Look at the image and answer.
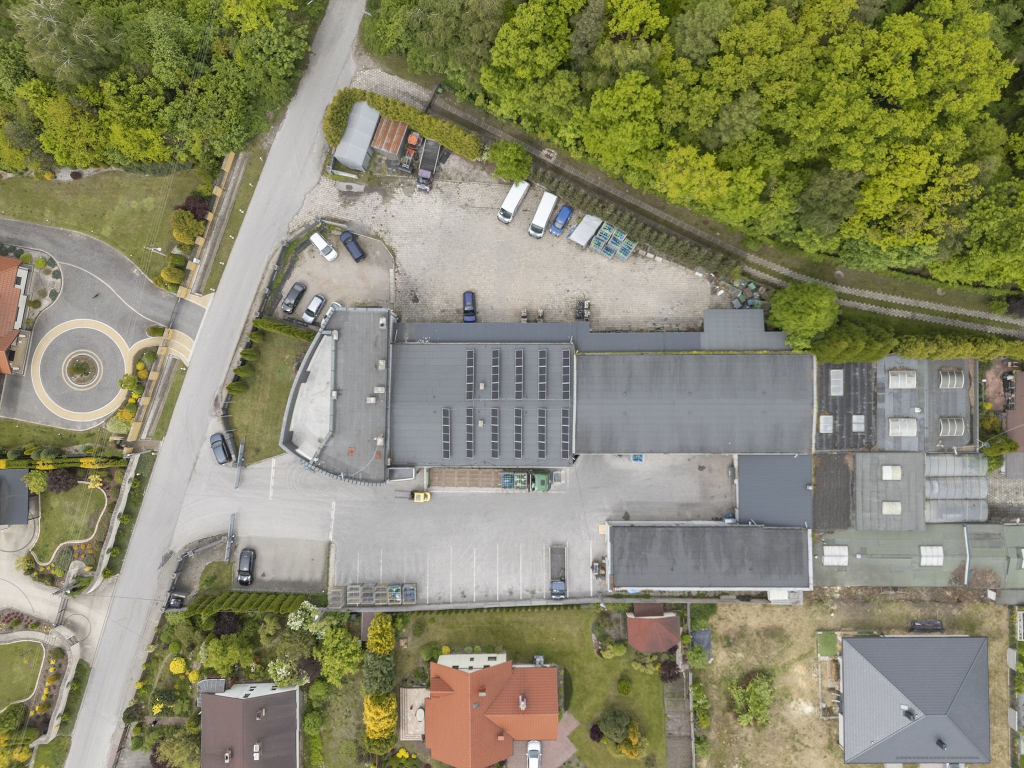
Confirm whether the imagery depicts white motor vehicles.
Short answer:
Yes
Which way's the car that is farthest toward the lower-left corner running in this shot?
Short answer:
vertically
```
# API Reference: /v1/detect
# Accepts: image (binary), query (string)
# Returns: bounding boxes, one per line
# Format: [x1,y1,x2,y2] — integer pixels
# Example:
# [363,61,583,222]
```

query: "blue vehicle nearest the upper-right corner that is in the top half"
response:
[551,204,573,237]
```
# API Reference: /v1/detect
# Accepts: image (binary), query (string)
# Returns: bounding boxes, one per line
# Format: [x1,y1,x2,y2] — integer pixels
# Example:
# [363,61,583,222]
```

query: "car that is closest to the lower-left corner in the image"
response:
[235,547,255,584]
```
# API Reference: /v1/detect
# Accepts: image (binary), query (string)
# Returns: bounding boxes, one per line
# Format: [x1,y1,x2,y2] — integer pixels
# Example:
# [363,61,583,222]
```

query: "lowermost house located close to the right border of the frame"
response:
[837,632,988,765]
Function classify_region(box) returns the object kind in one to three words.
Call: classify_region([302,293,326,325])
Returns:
car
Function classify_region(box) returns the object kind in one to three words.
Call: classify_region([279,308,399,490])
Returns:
building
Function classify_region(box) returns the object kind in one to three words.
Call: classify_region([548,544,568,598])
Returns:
vehicle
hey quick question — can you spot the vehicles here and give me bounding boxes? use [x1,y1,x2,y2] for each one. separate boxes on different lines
[461,292,477,323]
[235,547,255,584]
[529,190,558,240]
[318,301,341,330]
[416,138,443,195]
[282,281,307,315]
[302,293,326,325]
[310,230,337,263]
[426,470,552,492]
[209,432,232,466]
[397,492,431,502]
[400,130,423,179]
[499,178,528,225]
[548,544,568,598]
[340,230,366,264]
[525,740,542,768]
[551,204,573,237]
